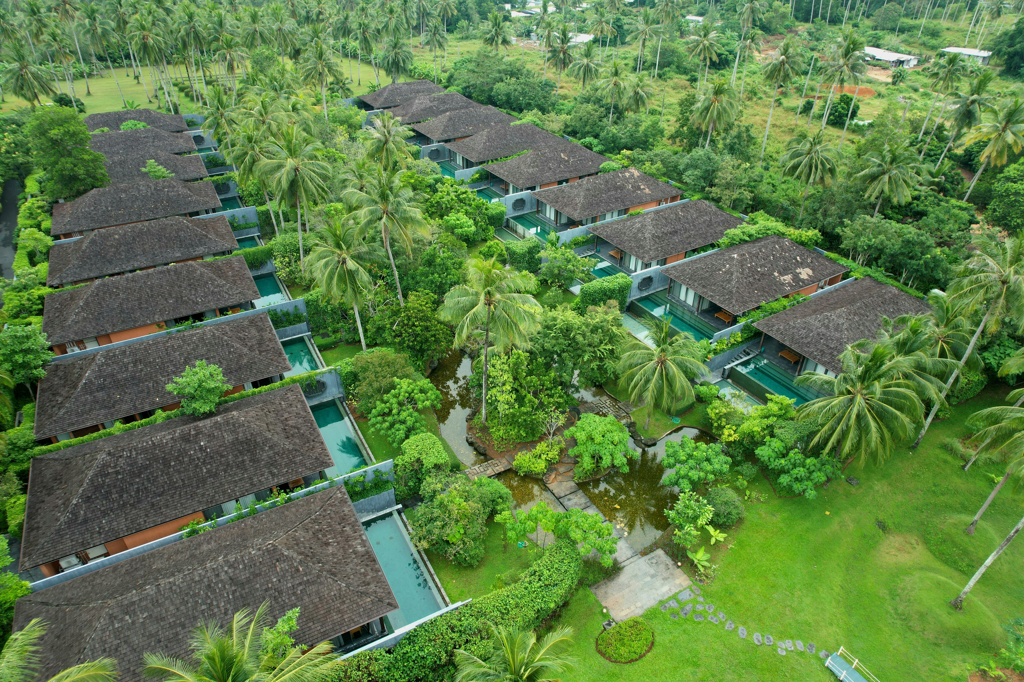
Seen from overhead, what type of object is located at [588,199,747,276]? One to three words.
house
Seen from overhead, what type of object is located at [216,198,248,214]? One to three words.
swimming pool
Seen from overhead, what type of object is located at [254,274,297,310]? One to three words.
swimming pool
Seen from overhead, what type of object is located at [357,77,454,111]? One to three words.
house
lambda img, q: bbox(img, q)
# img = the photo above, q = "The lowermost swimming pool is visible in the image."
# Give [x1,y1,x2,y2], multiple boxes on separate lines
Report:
[364,513,454,633]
